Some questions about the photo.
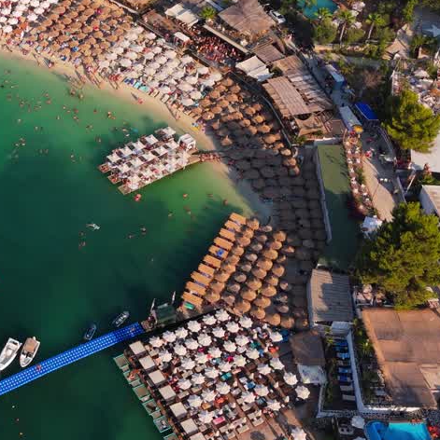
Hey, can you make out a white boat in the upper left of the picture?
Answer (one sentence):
No, I can find no white boat in the upper left of the picture.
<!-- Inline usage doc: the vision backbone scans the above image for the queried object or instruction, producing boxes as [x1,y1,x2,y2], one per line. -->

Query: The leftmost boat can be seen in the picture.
[0,336,22,368]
